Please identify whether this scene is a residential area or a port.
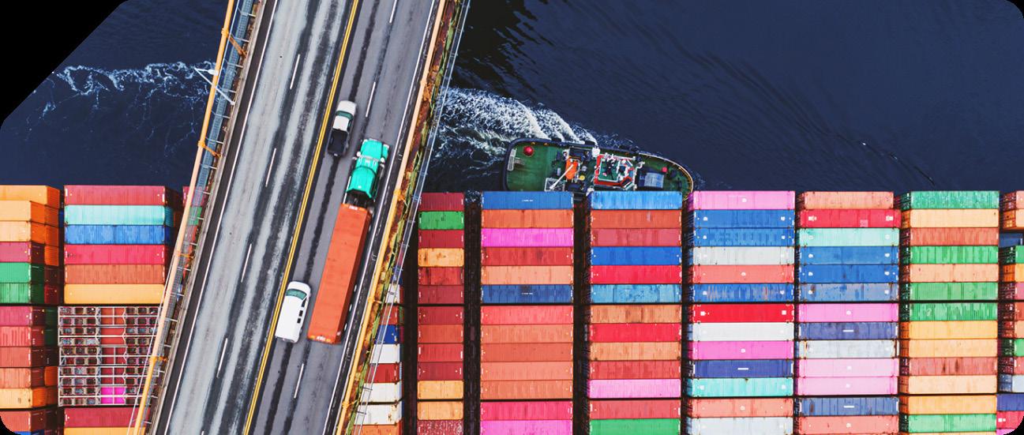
port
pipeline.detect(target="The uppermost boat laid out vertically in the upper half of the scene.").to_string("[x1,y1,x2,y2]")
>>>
[565,159,578,182]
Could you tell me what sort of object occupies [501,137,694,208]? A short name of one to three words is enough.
boat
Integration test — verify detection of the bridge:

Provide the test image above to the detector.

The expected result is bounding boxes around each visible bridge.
[128,0,472,435]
